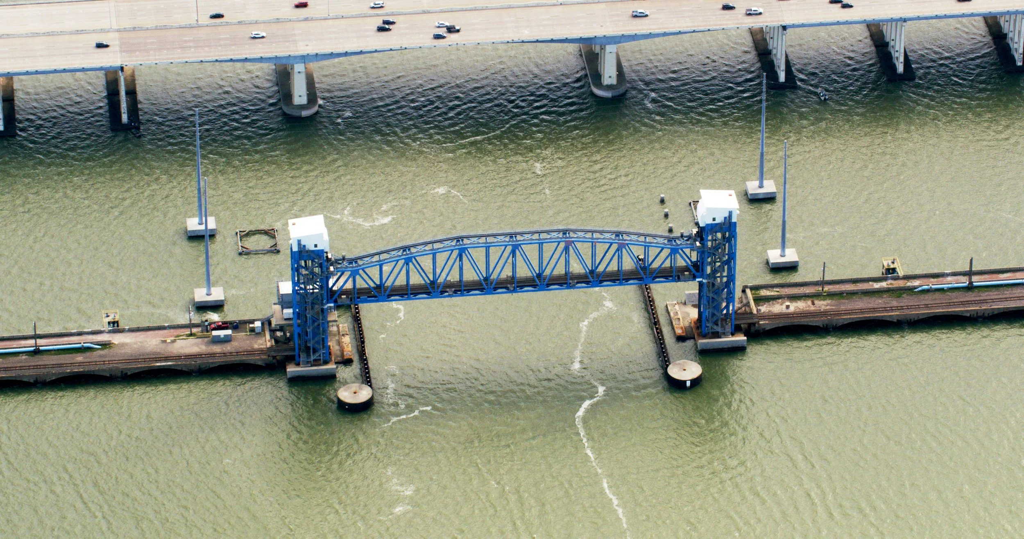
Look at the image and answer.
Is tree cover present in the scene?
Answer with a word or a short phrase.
No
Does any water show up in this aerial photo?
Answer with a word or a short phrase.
Yes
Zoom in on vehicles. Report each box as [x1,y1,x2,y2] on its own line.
[369,1,384,8]
[720,2,735,9]
[432,32,446,39]
[631,9,648,16]
[434,20,449,27]
[95,41,109,48]
[209,12,224,18]
[376,24,391,31]
[839,1,853,7]
[250,31,265,38]
[381,17,396,24]
[293,0,307,7]
[446,24,460,32]
[745,7,762,15]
